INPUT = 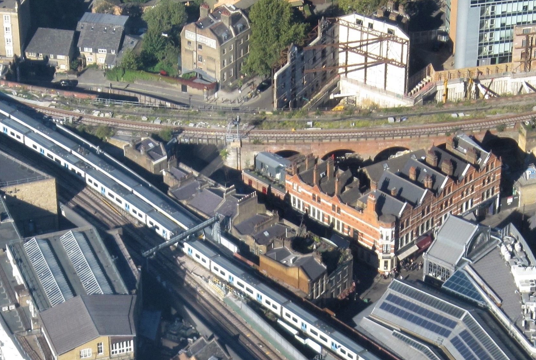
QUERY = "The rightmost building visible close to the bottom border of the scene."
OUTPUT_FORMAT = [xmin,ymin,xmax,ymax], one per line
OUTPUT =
[466,223,536,360]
